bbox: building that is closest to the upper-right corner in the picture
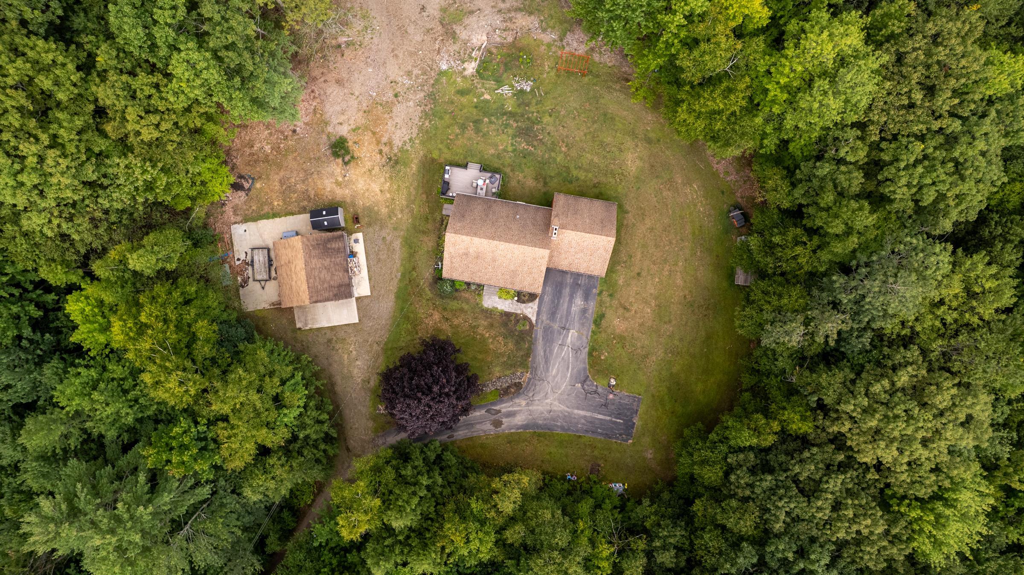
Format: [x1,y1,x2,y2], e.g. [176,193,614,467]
[442,191,617,296]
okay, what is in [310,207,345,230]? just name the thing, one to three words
shed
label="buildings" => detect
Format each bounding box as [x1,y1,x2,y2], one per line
[442,191,617,296]
[273,232,356,307]
[310,207,345,230]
